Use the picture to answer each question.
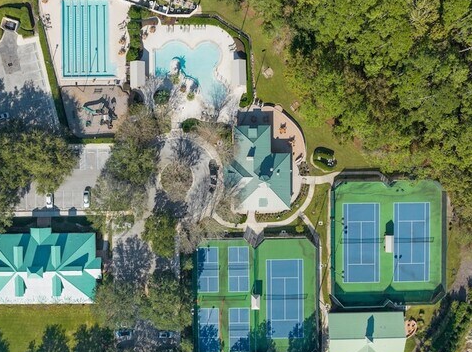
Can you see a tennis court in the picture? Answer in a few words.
Yes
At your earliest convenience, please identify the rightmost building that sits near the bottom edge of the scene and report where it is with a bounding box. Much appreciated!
[327,311,408,352]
